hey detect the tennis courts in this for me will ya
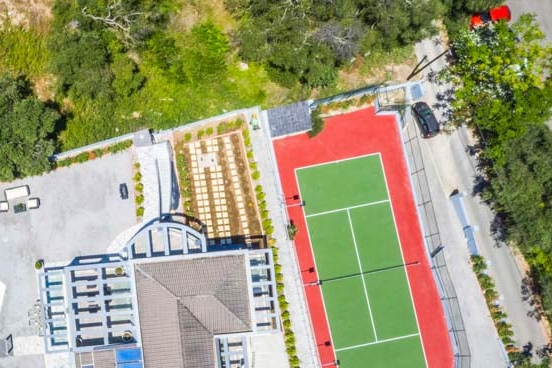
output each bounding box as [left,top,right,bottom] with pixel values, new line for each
[276,108,446,368]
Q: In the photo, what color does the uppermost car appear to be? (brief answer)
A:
red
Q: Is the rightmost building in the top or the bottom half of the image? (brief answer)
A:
top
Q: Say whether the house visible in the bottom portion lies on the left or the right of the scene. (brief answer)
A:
left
